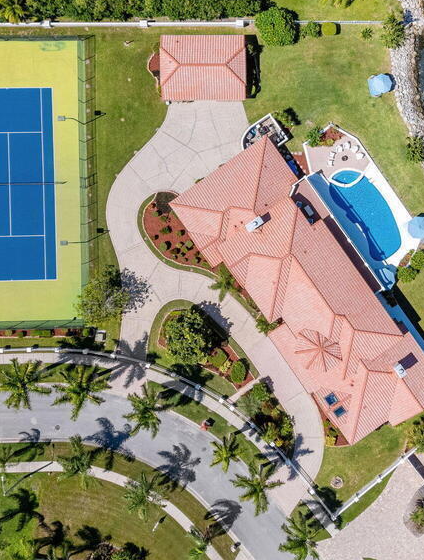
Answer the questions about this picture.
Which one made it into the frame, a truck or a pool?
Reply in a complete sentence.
Looking from above, you can make out a pool.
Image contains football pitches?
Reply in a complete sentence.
No, the photo shows no football pitch.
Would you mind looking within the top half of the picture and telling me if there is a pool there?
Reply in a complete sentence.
Yes, there is a pool within the top half of the picture.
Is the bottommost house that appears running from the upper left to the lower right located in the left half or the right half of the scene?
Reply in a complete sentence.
The bottommost house that appears running from the upper left to the lower right is on the right side of the image.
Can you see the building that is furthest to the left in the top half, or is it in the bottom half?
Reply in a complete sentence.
It is in the top half that the building that is furthest to the left appears.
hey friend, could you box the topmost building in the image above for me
[159,34,247,101]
